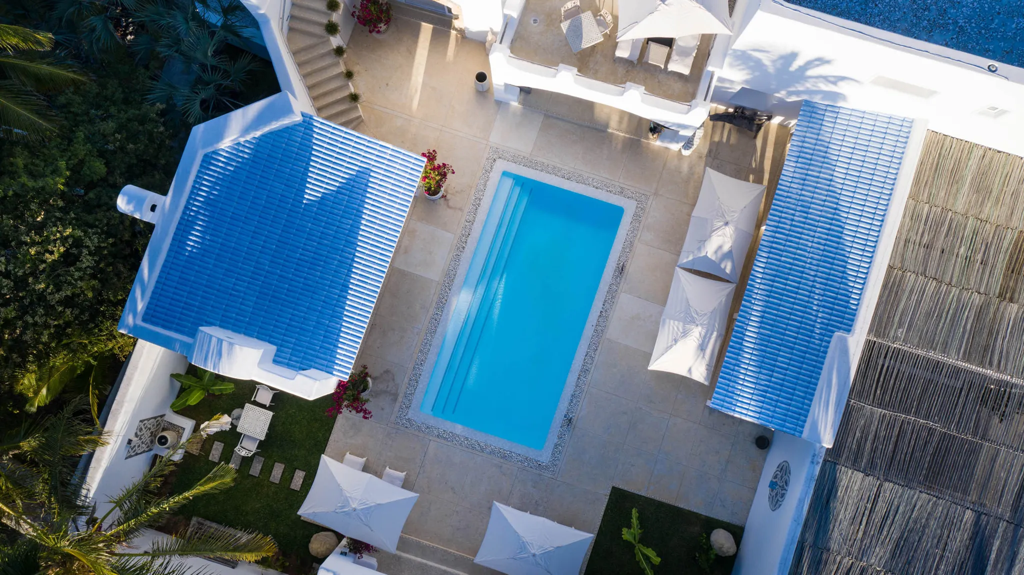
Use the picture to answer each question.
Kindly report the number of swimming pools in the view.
1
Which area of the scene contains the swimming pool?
center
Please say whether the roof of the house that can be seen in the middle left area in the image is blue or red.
blue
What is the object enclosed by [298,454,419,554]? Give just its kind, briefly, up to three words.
umbrella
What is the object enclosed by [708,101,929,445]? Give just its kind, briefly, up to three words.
house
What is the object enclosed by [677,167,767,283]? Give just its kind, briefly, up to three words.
umbrella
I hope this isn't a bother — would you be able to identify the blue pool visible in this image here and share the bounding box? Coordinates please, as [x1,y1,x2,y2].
[409,160,636,462]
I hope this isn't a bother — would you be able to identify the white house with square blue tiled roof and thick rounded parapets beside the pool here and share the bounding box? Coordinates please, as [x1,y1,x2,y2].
[119,92,426,401]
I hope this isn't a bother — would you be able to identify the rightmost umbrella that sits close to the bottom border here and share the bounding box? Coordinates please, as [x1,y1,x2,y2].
[473,501,594,575]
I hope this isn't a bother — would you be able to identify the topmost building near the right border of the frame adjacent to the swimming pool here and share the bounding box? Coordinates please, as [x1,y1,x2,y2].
[712,0,1024,194]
